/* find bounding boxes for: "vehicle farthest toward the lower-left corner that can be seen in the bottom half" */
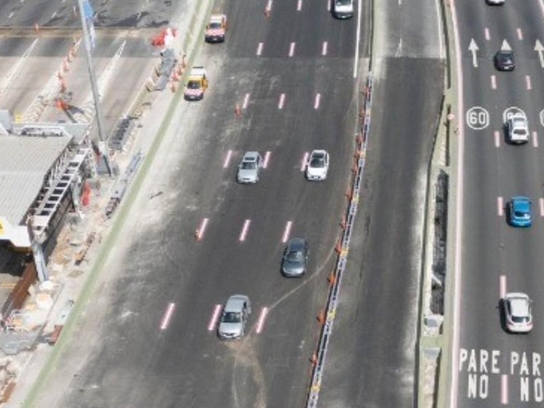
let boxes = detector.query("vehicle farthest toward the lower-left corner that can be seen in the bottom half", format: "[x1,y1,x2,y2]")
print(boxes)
[219,287,253,335]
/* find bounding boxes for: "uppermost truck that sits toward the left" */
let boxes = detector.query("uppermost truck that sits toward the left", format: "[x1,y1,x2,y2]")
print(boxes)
[205,7,228,39]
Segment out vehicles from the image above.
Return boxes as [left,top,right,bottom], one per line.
[494,49,515,70]
[205,7,228,39]
[237,144,265,179]
[219,287,253,335]
[506,193,534,223]
[306,141,333,177]
[332,0,355,15]
[506,113,530,140]
[282,235,312,275]
[504,286,536,329]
